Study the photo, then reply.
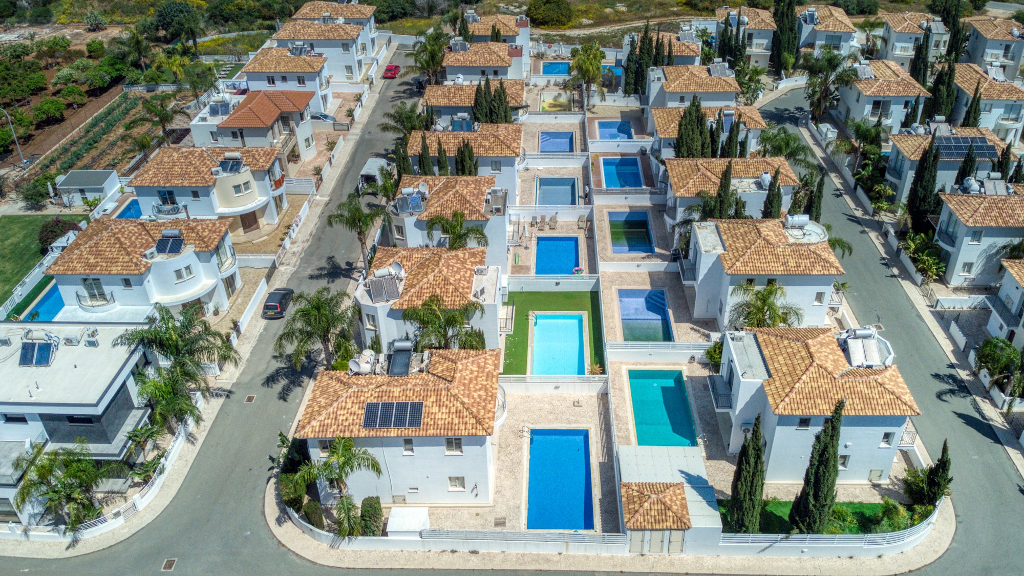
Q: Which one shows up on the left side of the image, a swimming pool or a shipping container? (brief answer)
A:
swimming pool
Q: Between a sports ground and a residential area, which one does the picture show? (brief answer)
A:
residential area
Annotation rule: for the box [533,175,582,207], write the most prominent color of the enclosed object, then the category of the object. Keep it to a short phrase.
blue swimming pool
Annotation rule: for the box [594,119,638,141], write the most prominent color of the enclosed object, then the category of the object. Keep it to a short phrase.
blue swimming pool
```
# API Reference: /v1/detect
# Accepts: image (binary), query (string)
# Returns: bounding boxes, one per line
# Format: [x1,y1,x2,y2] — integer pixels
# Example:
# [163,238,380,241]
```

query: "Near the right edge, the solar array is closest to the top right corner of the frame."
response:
[928,130,1004,154]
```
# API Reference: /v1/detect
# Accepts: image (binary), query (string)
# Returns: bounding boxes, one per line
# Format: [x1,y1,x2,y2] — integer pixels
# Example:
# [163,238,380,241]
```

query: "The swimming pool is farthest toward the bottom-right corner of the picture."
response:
[622,366,706,452]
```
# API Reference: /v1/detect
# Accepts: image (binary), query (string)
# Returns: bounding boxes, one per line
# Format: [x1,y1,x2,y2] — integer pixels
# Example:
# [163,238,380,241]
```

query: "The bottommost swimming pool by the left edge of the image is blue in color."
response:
[19,280,68,319]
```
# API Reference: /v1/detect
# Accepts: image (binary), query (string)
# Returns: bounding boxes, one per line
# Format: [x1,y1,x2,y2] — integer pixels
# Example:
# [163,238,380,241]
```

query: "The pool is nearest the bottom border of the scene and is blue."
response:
[520,424,601,534]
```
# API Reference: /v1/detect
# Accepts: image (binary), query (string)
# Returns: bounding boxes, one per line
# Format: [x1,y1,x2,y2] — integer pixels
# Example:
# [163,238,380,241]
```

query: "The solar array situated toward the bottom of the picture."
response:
[364,397,432,423]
